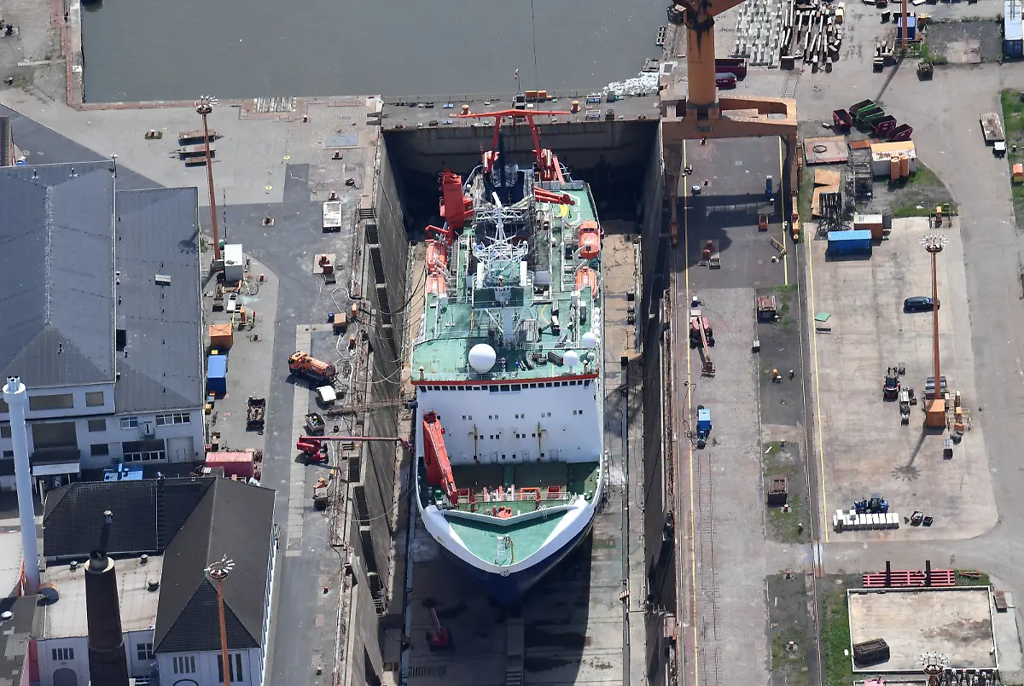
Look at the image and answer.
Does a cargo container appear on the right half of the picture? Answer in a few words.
Yes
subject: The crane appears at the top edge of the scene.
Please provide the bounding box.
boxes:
[659,0,800,274]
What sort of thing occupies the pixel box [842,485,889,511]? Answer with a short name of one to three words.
work vehicle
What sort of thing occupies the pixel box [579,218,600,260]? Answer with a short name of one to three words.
boat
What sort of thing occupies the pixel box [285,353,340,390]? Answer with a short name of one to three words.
truck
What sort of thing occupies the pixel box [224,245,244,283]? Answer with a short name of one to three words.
building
